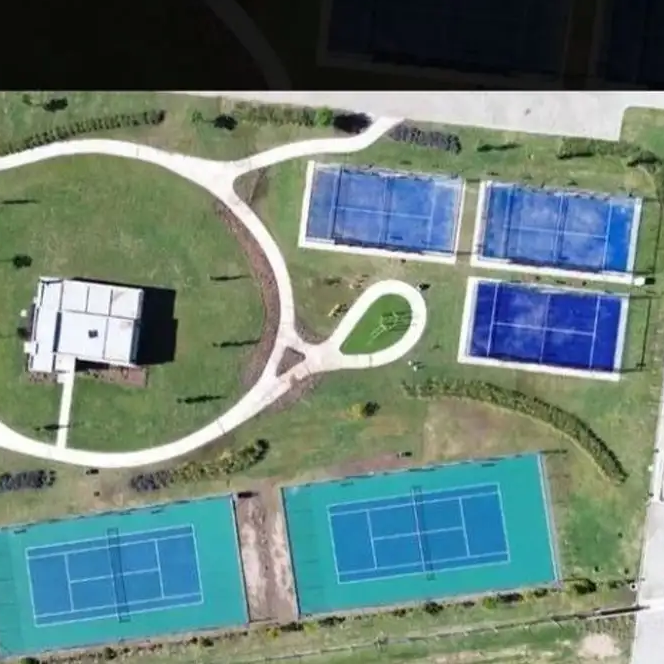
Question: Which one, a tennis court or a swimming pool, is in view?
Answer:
tennis court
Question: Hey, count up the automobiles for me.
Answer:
zero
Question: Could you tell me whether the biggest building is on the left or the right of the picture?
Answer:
left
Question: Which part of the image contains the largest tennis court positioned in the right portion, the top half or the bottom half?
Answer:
bottom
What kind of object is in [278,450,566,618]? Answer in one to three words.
tennis court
